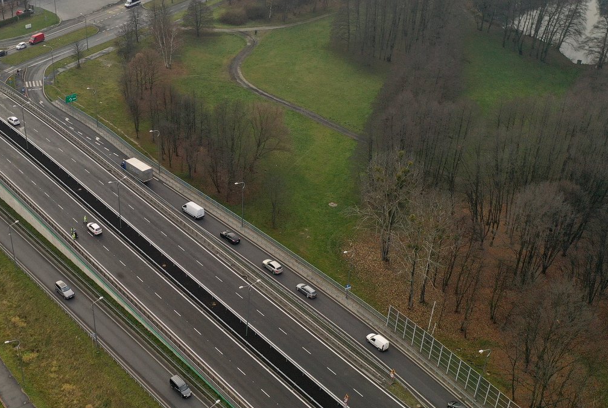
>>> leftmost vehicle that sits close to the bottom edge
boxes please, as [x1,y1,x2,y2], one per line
[167,374,192,397]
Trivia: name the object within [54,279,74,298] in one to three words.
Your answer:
car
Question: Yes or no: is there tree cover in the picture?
Yes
